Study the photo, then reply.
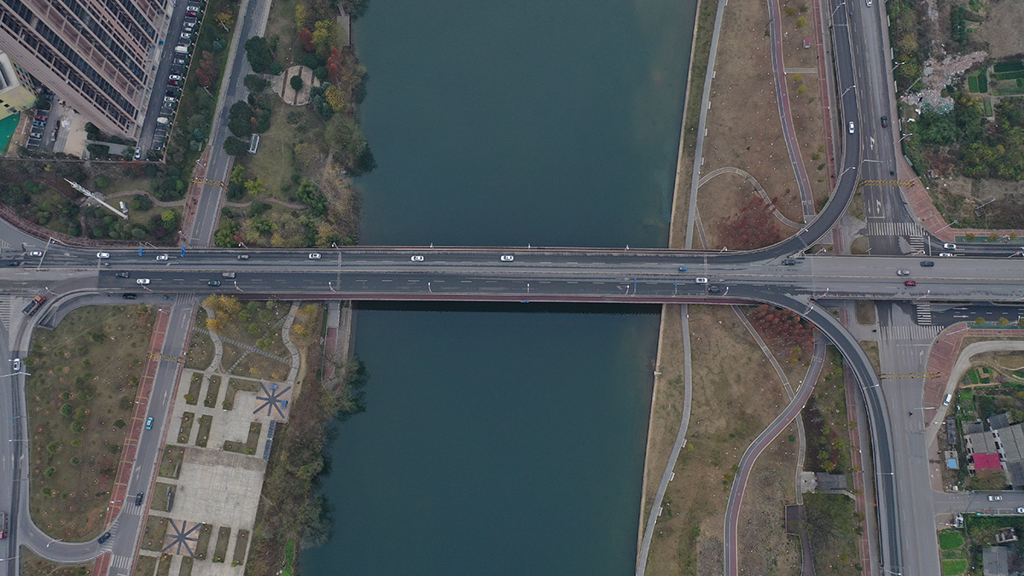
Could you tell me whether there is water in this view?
Yes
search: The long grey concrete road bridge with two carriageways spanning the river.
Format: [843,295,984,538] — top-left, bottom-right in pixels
[0,219,1024,308]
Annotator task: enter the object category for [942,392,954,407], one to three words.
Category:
vehicle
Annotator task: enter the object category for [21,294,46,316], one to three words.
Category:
truck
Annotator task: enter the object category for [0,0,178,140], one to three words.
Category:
building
